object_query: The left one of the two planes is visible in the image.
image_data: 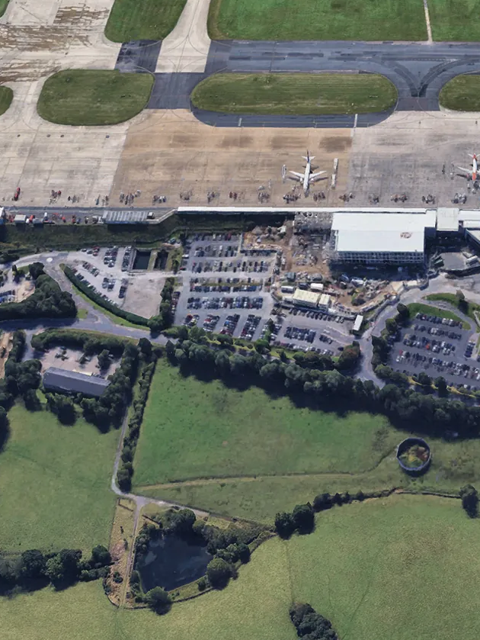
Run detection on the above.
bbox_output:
[288,156,325,194]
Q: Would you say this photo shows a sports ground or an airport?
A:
airport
